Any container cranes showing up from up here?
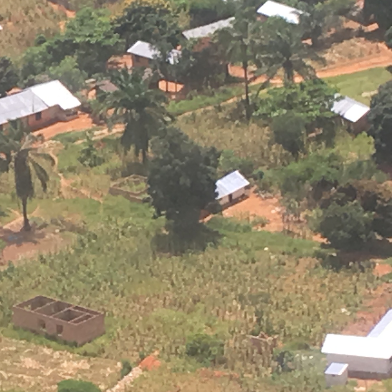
No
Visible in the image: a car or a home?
home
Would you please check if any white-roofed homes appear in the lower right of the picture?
Yes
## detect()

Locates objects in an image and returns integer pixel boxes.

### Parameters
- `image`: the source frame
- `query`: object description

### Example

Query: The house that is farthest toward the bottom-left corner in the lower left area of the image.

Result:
[14,295,104,344]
